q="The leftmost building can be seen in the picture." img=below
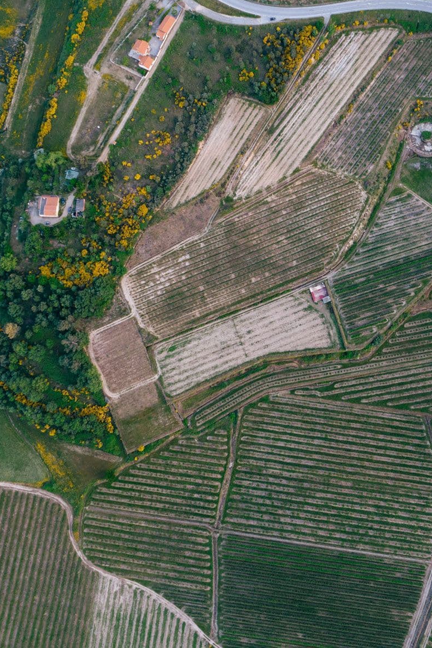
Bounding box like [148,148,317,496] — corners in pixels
[40,198,61,216]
